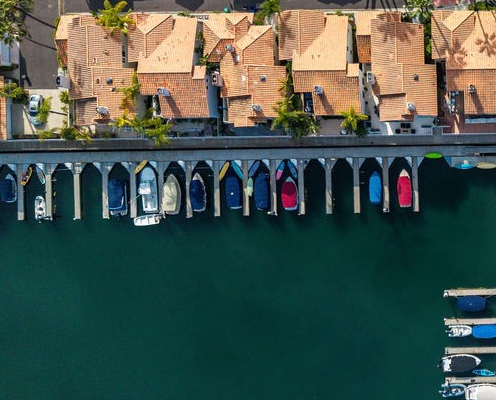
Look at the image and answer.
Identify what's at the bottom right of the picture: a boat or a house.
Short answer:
boat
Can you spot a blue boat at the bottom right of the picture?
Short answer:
Yes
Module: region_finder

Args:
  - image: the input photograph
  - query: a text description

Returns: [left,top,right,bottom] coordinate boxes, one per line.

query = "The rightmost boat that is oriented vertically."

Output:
[396,169,411,208]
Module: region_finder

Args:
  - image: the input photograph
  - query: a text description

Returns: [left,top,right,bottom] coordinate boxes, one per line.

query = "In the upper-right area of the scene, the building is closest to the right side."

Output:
[431,10,496,126]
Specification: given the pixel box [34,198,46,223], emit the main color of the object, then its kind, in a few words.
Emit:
white boat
